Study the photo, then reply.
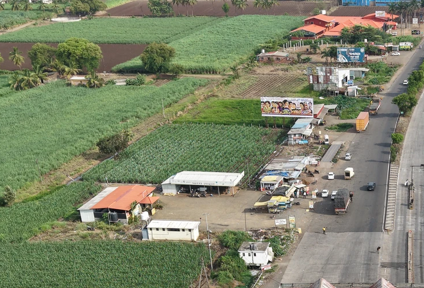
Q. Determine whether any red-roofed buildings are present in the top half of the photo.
Yes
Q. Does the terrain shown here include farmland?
Yes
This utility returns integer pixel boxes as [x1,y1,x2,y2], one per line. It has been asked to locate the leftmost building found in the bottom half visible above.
[75,180,156,224]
